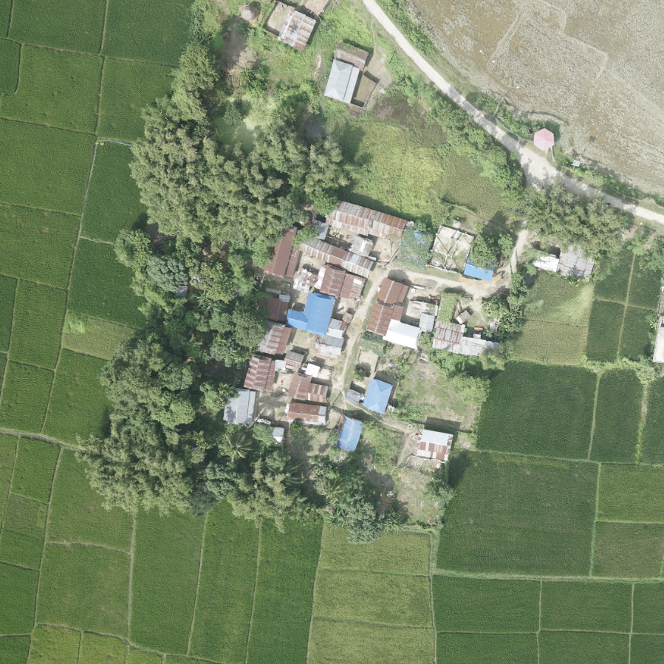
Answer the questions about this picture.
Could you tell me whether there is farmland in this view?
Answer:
Yes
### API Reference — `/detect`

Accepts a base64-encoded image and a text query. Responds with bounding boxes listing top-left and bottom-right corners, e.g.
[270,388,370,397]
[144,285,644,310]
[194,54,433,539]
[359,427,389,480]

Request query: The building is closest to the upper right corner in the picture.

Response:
[535,129,553,152]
